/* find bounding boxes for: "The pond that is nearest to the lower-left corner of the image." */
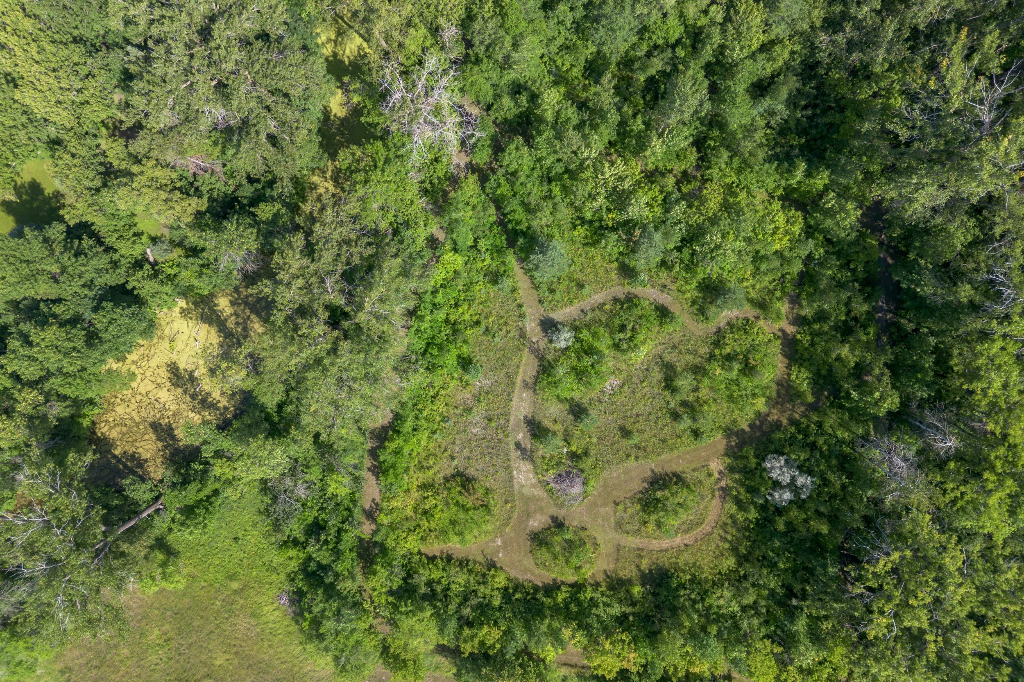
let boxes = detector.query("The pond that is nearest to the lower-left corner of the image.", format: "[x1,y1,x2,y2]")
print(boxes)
[81,261,296,494]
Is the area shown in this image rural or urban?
rural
